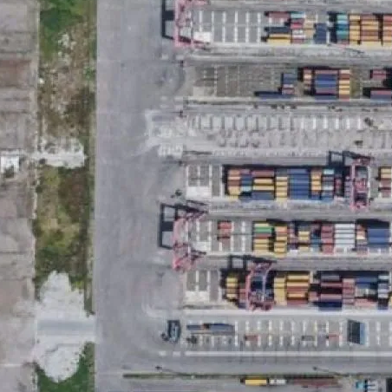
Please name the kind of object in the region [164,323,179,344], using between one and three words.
work vehicle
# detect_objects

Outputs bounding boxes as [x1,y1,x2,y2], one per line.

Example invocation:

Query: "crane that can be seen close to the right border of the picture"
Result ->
[350,155,377,210]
